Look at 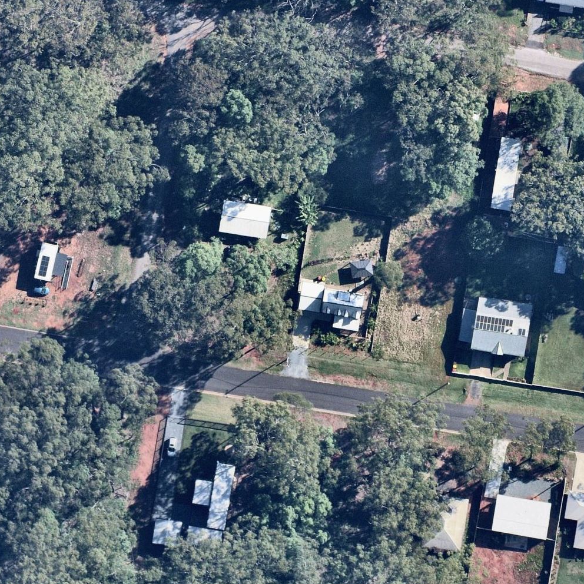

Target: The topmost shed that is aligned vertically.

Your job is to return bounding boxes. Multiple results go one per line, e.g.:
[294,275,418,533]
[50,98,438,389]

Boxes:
[491,137,521,211]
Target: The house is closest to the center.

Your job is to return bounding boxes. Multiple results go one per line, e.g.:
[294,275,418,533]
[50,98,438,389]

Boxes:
[298,282,364,331]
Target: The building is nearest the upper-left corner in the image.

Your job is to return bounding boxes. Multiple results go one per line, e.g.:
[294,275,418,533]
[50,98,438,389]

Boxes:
[34,242,59,283]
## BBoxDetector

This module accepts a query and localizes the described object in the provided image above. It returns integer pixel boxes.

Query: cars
[168,437,178,457]
[33,287,51,296]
